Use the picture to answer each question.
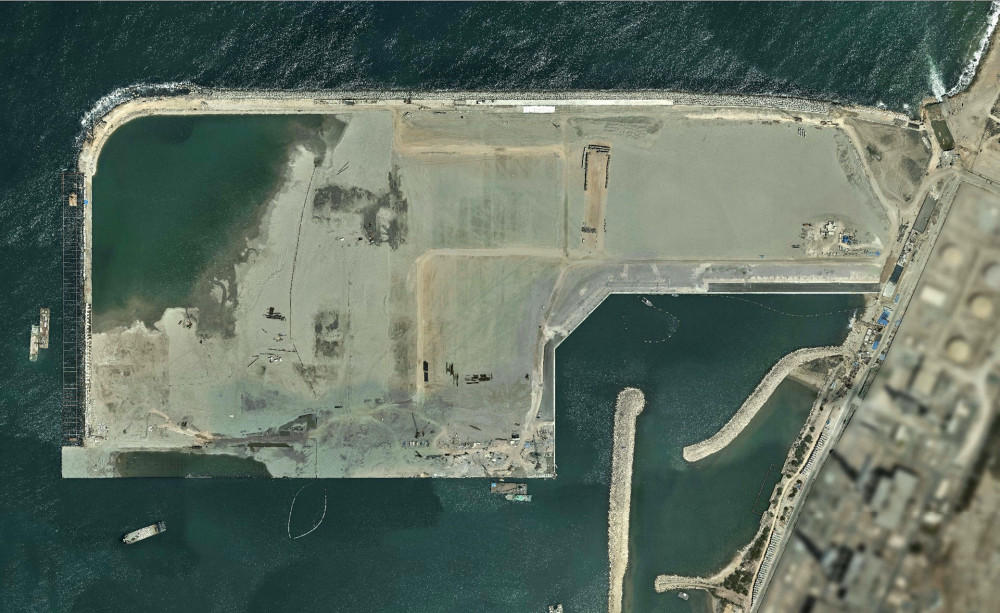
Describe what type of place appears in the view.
port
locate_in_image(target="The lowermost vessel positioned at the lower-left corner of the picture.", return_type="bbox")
[123,520,167,543]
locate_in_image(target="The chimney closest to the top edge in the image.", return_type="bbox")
[918,389,938,413]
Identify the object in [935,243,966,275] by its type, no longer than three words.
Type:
storage tank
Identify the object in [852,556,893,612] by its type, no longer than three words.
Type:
building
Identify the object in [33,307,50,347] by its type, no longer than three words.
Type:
ship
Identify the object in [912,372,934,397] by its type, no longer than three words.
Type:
building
